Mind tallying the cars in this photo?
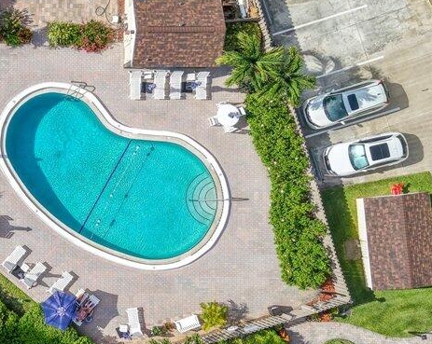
2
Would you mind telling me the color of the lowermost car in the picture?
white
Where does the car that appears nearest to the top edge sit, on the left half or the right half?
right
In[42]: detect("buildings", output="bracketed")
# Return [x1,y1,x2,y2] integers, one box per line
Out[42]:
[125,0,226,74]
[349,191,432,293]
